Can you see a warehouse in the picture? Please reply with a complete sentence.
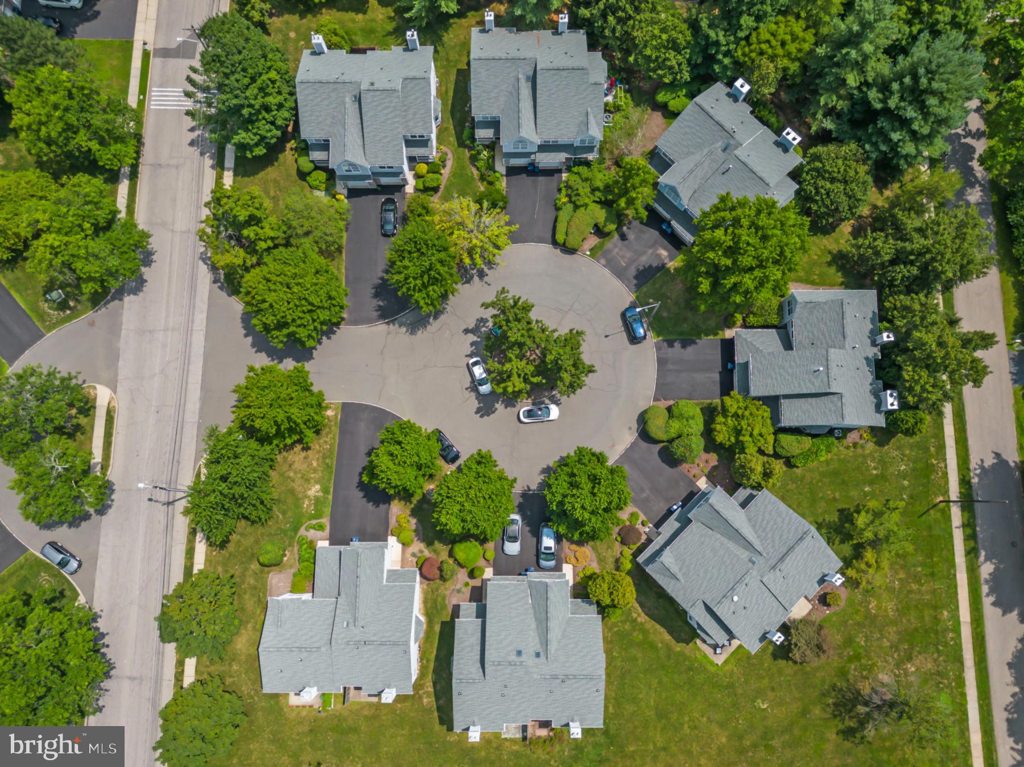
No, no warehouse is visible in the view.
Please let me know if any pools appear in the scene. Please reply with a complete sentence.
No, I can't see a single pool in this photo.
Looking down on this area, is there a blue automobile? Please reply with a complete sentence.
Yes, I can see a blue automobile in this picture.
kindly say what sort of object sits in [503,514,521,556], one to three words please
car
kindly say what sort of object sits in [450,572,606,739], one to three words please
house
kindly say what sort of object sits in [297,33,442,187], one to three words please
house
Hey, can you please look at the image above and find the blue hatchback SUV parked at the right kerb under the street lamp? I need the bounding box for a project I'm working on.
[623,307,647,343]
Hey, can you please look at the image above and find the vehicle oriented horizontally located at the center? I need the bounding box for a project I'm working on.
[519,404,559,423]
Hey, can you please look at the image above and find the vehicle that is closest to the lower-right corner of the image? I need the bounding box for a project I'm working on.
[538,525,557,568]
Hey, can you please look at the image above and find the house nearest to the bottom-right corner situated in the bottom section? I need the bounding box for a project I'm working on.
[634,485,843,654]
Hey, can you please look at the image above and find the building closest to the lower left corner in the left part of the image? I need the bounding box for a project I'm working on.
[259,542,425,702]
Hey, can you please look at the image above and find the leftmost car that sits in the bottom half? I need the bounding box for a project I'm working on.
[37,543,81,574]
